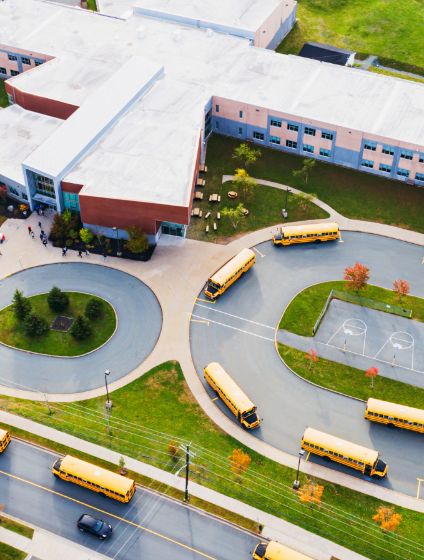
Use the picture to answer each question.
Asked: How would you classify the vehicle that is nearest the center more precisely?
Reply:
bus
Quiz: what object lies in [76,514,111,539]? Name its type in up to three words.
car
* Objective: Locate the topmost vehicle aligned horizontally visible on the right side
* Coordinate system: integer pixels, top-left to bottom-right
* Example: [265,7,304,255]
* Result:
[271,224,340,250]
